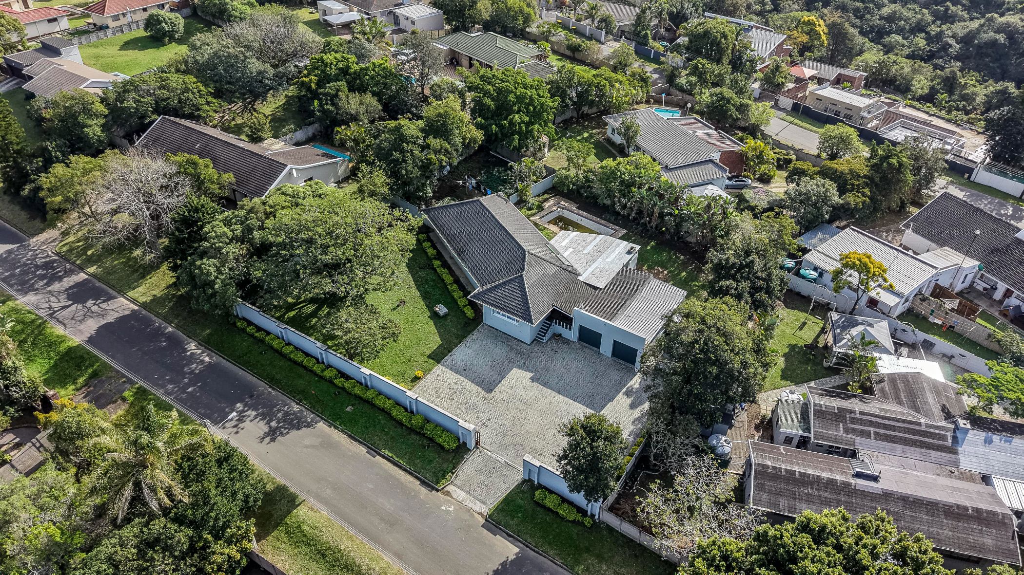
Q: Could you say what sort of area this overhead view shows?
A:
residential area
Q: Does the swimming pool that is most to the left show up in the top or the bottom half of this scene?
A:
top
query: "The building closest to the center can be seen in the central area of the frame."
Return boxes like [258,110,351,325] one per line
[421,187,686,373]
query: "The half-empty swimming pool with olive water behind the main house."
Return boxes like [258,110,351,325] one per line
[536,194,627,241]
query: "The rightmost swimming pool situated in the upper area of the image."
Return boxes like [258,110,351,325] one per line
[648,105,684,119]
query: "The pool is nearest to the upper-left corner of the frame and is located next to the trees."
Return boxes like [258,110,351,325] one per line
[307,139,356,165]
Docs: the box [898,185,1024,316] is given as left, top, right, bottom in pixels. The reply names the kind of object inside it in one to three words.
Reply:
house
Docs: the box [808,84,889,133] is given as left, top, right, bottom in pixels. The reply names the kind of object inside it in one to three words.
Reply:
house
